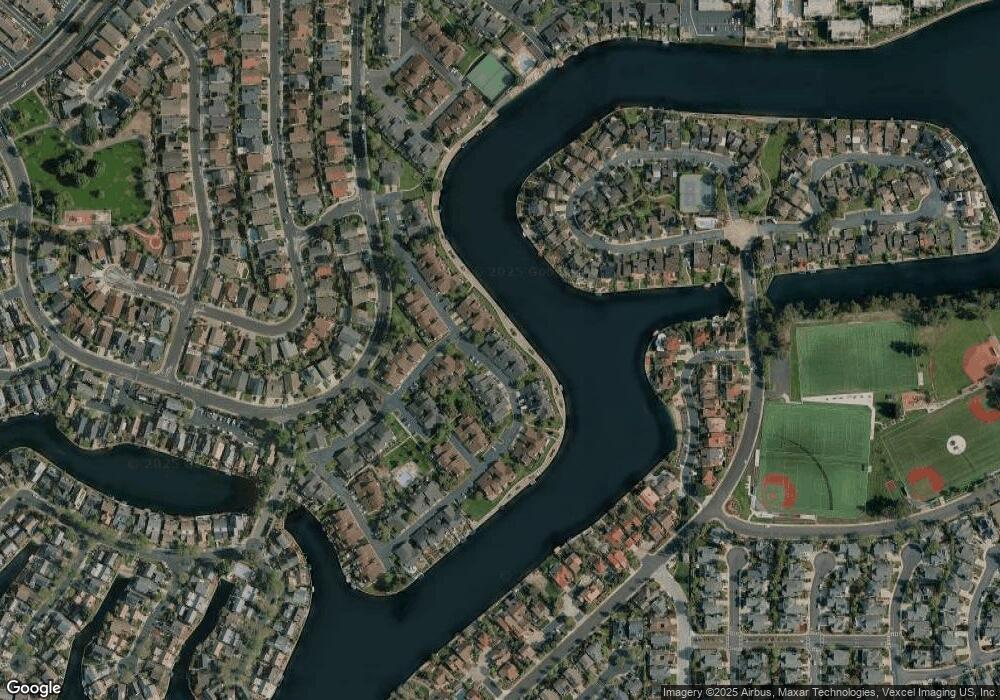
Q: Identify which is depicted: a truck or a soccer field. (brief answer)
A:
soccer field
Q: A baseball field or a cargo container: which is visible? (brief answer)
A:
baseball field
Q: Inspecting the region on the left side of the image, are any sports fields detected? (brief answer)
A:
No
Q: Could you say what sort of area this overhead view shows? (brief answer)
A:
residential area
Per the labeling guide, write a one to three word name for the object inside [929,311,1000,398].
baseball field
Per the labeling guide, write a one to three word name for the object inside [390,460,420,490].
swimming pool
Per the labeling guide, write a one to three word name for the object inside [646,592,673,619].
house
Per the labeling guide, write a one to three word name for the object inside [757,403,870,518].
sports field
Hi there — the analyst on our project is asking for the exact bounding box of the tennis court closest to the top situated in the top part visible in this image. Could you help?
[466,52,516,101]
